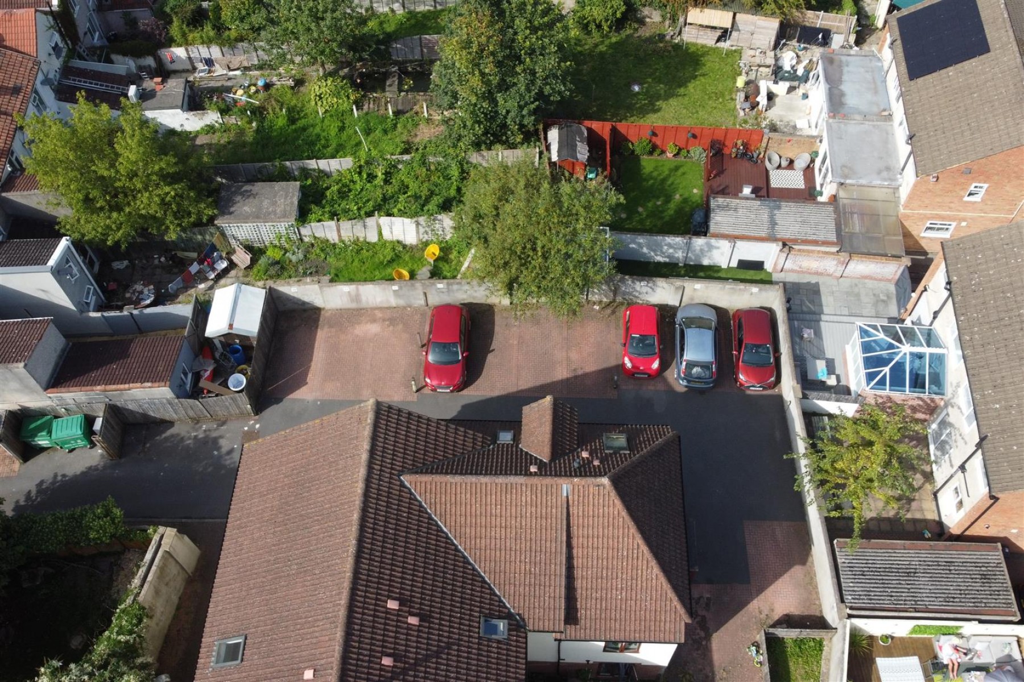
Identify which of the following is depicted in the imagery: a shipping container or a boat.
boat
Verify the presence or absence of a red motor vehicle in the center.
Yes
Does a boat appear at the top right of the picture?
No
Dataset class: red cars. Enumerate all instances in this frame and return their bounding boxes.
[618,300,665,377]
[420,303,472,392]
[728,304,783,390]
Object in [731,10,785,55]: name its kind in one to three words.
shed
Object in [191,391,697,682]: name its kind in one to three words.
building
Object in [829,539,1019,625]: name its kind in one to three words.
building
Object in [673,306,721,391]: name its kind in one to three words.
car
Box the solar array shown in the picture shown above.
[896,0,990,79]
